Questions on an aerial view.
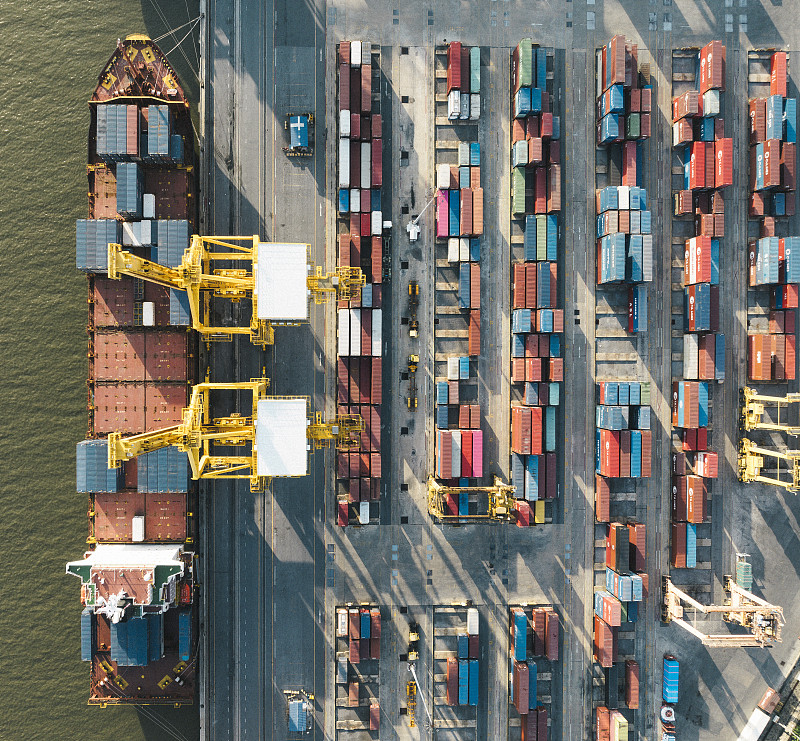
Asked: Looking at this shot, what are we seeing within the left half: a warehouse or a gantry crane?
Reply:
gantry crane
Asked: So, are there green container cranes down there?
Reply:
No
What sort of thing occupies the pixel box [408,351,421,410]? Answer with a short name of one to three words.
vehicle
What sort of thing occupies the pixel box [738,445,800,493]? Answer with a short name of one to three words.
container crane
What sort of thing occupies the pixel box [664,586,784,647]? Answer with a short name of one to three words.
container crane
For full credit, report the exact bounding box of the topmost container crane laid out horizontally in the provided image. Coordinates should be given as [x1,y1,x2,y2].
[106,234,370,353]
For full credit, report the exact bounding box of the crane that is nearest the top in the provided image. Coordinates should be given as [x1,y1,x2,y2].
[403,193,437,249]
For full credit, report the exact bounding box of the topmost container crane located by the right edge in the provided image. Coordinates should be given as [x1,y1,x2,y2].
[738,389,800,433]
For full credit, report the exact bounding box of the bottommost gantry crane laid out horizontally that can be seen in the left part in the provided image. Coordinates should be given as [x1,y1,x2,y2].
[106,367,370,496]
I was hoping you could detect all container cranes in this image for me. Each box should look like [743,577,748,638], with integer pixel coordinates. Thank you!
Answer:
[664,586,784,647]
[106,367,370,496]
[738,389,800,433]
[427,471,524,521]
[106,234,370,353]
[738,445,800,493]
